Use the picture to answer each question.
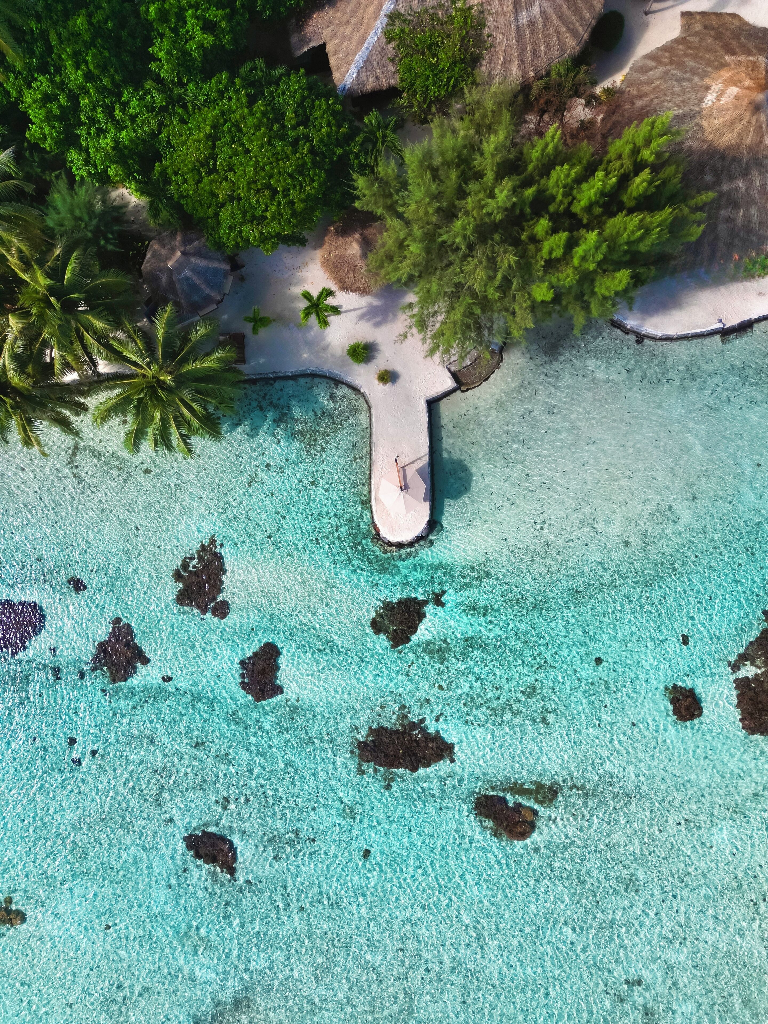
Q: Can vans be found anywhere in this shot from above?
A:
No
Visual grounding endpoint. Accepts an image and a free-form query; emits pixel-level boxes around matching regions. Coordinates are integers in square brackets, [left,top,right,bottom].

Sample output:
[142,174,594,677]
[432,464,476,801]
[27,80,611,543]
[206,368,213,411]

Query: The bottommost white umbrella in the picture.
[378,456,426,514]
